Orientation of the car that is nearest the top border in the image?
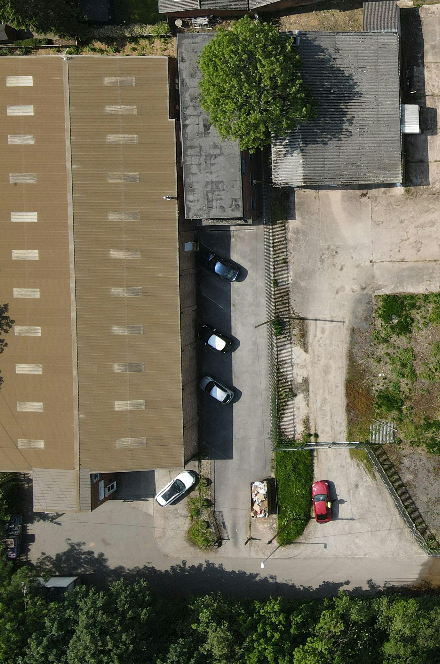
at an angle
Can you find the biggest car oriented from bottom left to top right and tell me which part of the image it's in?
bottom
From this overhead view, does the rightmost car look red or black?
red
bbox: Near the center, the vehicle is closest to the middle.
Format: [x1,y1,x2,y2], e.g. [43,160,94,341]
[197,323,235,357]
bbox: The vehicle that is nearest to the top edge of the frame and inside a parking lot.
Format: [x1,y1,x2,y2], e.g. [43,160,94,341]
[202,249,245,287]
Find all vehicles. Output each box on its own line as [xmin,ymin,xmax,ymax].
[197,323,235,357]
[309,480,334,523]
[198,372,239,408]
[152,468,198,510]
[202,249,245,287]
